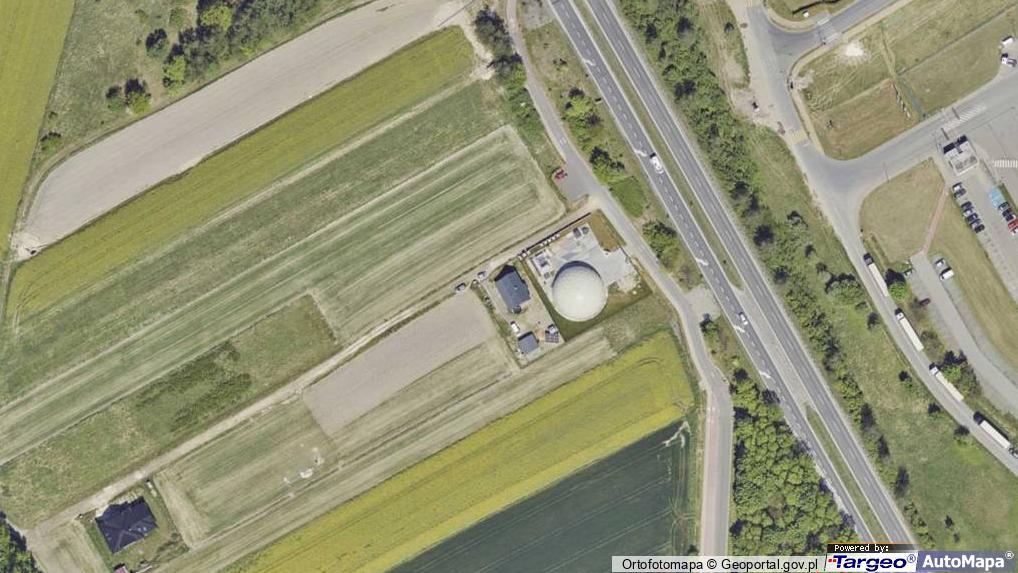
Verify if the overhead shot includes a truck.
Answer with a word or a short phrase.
Yes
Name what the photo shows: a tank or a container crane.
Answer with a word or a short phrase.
tank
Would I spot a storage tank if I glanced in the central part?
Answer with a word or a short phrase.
Yes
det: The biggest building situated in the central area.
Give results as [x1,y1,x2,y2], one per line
[494,271,532,312]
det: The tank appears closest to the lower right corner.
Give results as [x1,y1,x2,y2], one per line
[552,264,607,319]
